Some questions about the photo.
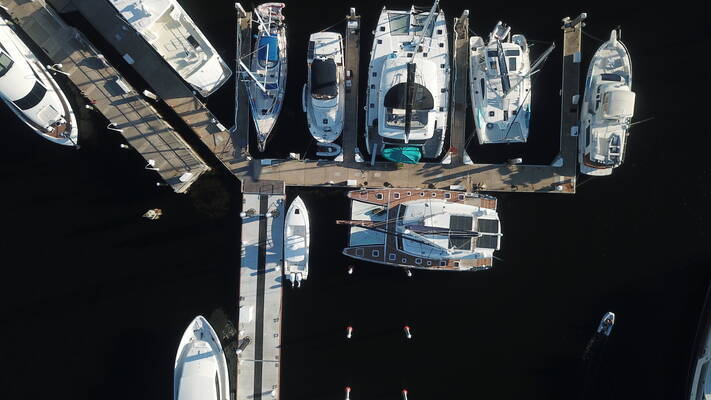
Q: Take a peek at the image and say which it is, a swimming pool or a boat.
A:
boat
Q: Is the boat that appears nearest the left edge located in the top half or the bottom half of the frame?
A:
top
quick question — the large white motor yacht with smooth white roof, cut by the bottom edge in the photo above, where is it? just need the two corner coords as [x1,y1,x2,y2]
[171,316,232,400]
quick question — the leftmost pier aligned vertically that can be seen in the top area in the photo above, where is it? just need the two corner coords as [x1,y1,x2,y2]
[237,12,251,159]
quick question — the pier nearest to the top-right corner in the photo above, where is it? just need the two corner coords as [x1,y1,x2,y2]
[560,22,580,167]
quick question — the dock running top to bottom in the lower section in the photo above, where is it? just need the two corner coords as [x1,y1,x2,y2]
[236,193,286,400]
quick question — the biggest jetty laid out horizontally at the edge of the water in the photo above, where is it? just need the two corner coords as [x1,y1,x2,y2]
[240,159,576,192]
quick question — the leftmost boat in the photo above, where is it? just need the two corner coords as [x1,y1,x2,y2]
[0,12,86,148]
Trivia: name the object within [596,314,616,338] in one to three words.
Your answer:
boat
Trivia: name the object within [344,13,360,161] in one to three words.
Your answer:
pier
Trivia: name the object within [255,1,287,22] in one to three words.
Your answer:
boat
